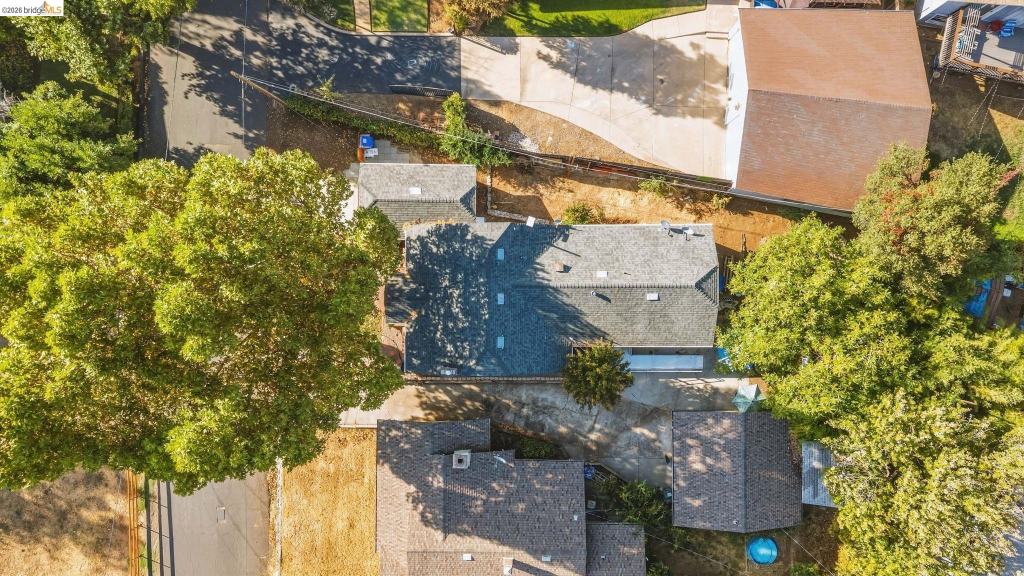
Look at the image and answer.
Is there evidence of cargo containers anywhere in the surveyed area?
No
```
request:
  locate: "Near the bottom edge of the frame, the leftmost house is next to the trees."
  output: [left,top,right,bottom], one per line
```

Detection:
[376,418,647,576]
